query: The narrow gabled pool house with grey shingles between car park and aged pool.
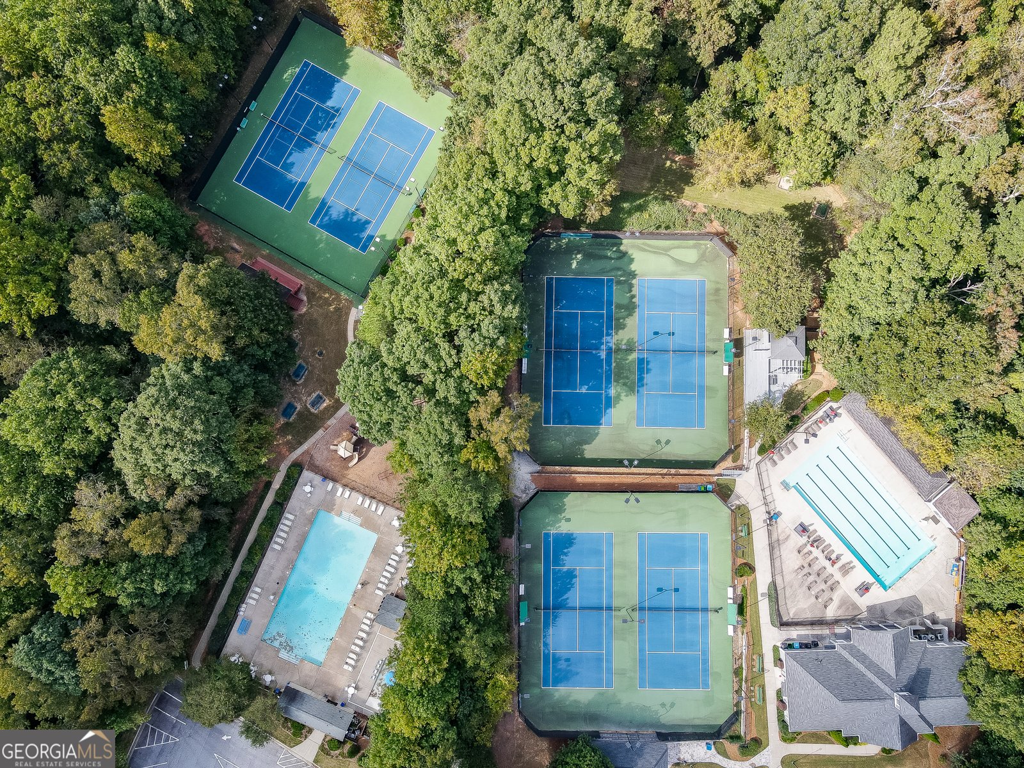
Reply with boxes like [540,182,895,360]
[276,678,356,742]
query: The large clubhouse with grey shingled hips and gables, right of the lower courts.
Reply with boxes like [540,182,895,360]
[780,623,978,750]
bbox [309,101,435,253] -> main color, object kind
blue tennis court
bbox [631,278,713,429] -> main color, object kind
blue tennis court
